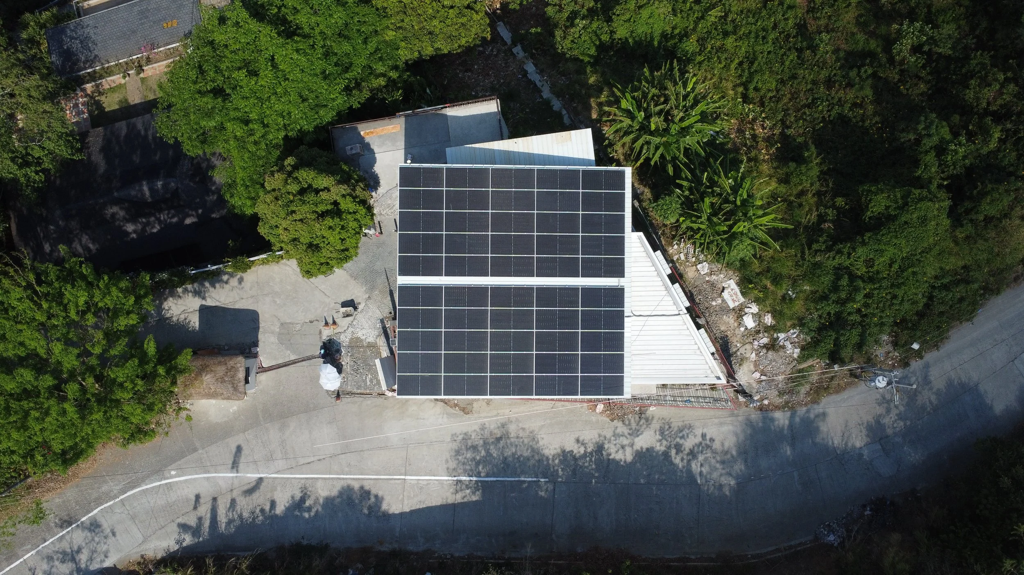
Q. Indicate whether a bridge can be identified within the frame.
No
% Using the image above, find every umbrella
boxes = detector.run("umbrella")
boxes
[316,363,338,386]
[320,376,342,395]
